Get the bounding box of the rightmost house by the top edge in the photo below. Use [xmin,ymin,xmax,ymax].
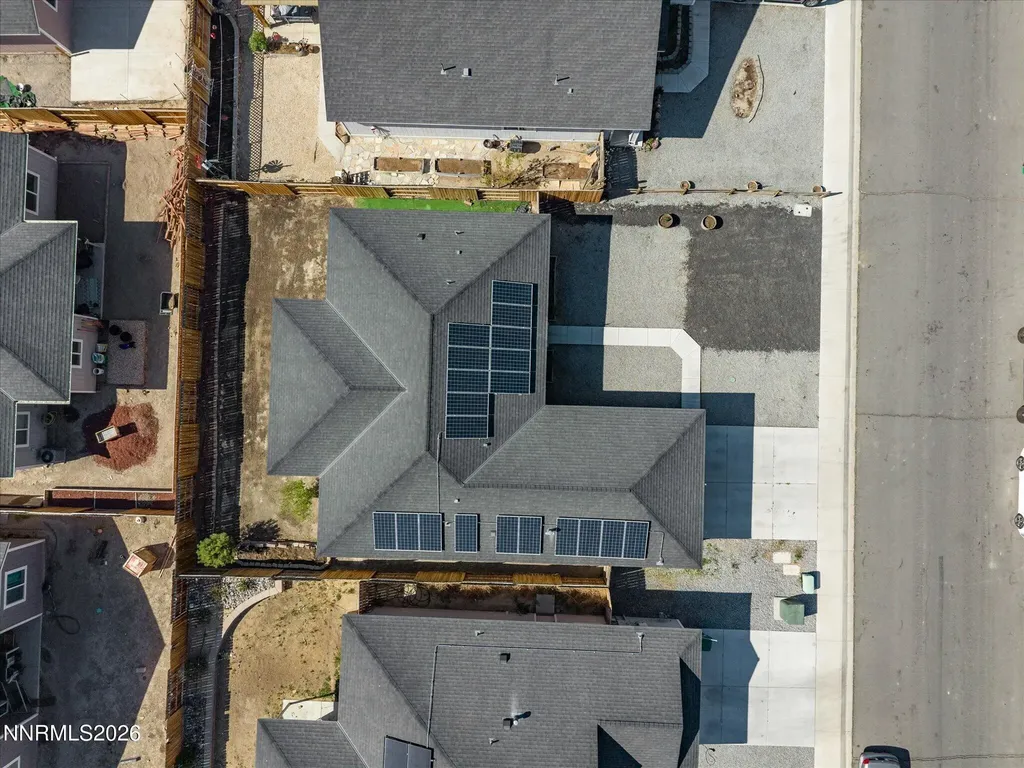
[316,0,662,145]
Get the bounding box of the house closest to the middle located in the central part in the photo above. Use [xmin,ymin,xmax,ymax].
[266,206,707,569]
